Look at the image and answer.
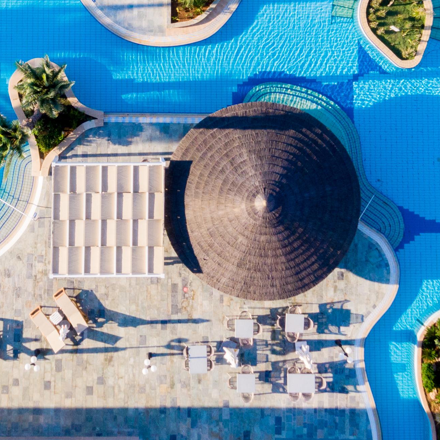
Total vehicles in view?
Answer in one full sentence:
I count no vehicles.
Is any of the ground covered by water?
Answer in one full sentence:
Yes, there's water in this view.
